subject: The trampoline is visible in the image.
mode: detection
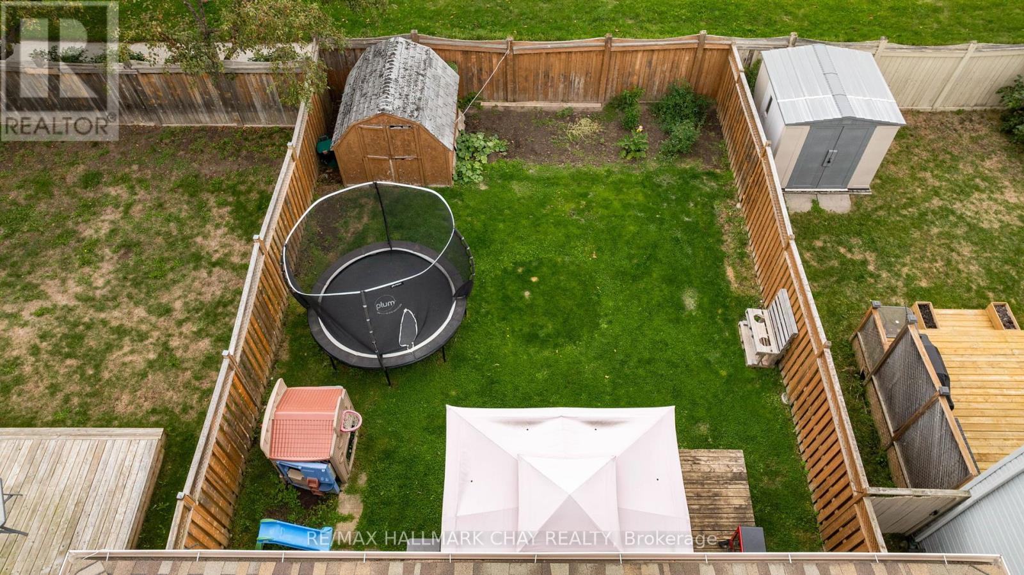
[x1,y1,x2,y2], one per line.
[280,181,474,388]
